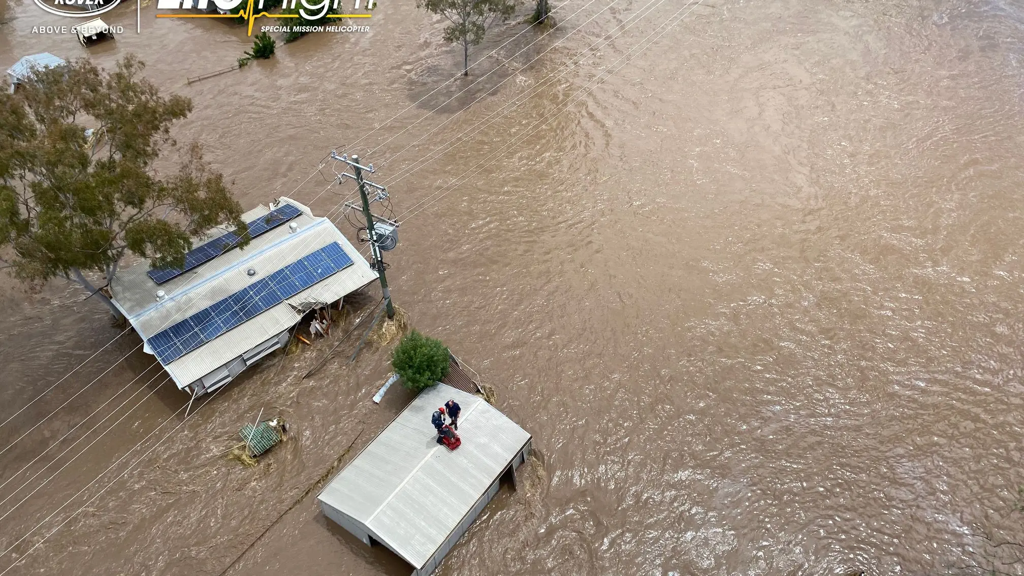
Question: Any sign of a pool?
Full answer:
No, the photo shows no pool.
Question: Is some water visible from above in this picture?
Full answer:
Yes, water shows up in the scene.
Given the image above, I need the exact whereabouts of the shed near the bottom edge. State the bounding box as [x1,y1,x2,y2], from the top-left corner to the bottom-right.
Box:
[316,379,534,576]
